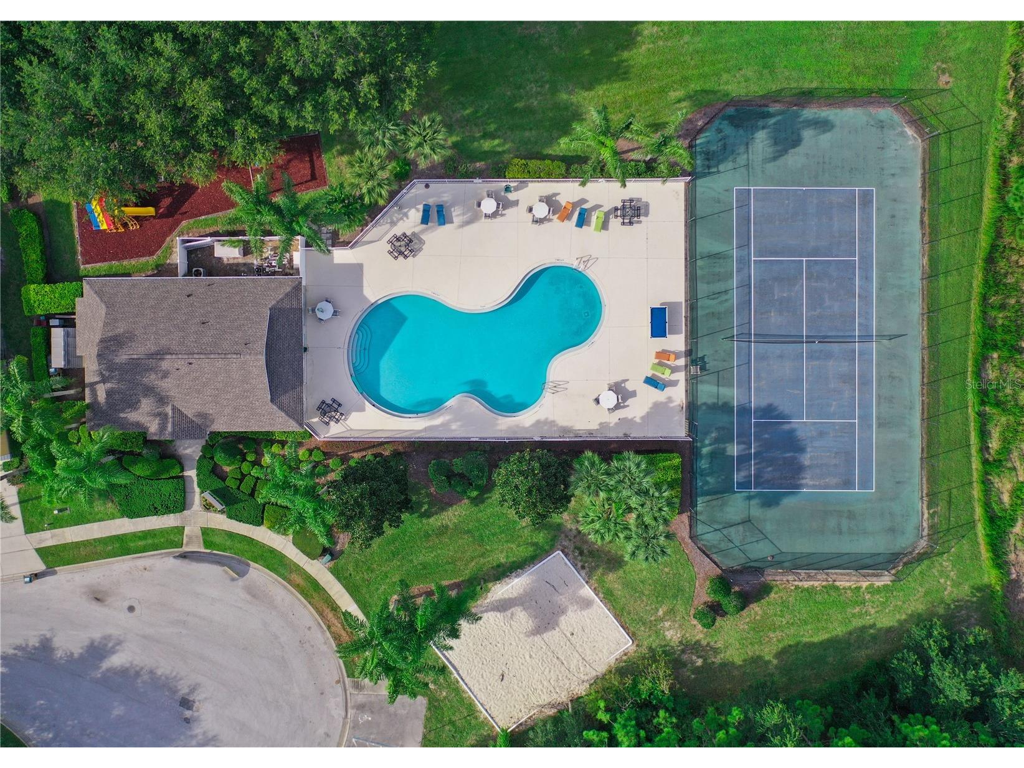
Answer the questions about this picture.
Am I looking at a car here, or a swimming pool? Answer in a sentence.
Looking from above, you can make out a swimming pool.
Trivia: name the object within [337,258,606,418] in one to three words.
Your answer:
swimming pool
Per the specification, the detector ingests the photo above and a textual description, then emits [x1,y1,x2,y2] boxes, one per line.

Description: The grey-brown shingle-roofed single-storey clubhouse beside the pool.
[76,277,307,441]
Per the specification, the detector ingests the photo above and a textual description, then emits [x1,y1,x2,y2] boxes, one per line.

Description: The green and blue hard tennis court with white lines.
[695,108,921,570]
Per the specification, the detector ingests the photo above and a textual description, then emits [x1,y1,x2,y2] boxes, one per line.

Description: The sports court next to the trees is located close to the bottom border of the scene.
[436,551,633,731]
